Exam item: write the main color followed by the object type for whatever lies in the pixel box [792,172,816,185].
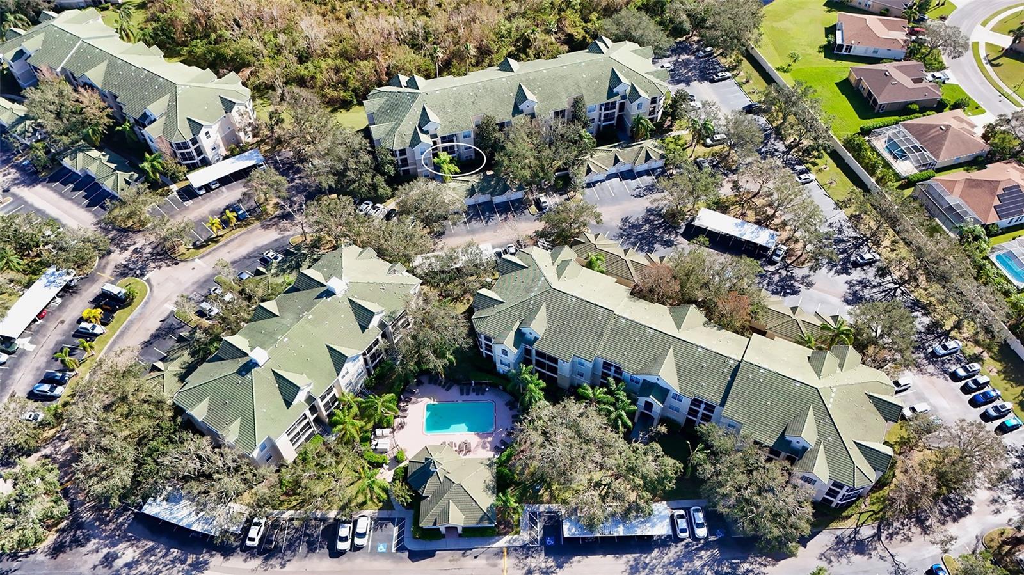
white vehicle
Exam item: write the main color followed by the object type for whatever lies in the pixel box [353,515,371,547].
white car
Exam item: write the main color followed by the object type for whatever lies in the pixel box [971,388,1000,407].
blue car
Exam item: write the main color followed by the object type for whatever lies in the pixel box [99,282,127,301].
white vehicle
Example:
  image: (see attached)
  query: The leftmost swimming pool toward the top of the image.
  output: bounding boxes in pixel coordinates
[889,143,912,161]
